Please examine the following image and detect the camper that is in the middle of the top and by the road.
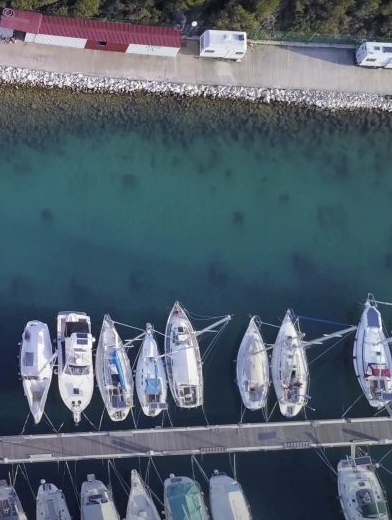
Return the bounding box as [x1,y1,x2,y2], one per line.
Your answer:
[199,32,247,69]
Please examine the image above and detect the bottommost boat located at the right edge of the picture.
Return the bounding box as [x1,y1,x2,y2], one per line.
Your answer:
[334,441,392,520]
